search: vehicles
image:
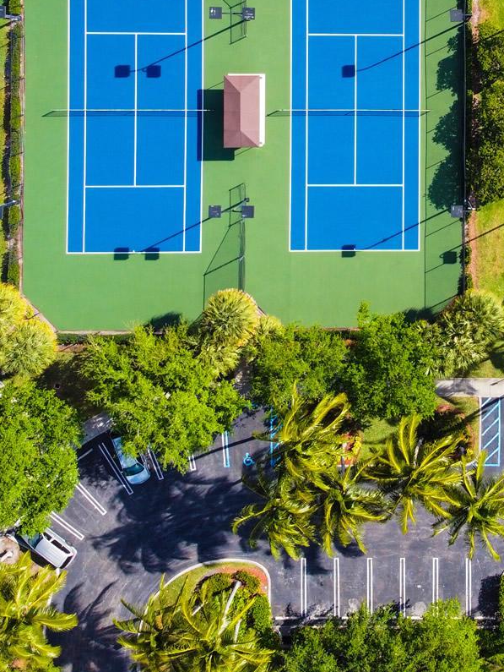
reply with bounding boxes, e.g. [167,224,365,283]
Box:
[14,520,75,571]
[103,434,149,488]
